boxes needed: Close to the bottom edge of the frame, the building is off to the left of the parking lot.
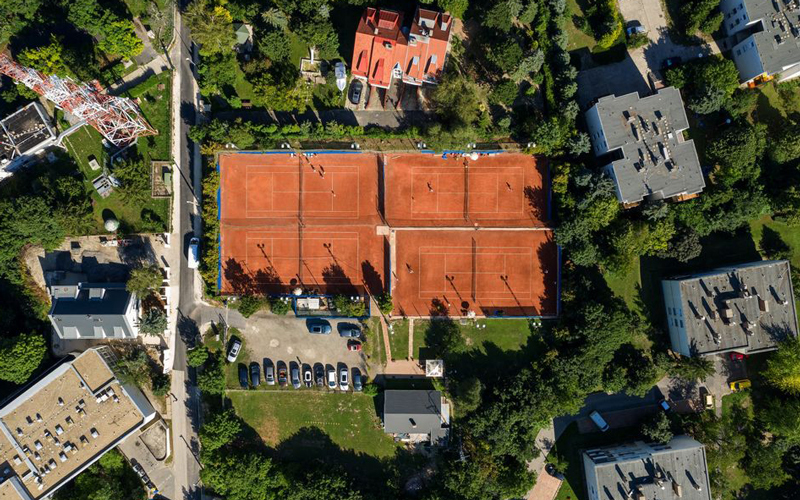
[0,344,159,500]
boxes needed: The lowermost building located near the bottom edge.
[582,431,712,500]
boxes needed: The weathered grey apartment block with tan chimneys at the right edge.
[662,259,800,357]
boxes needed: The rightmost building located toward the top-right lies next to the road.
[717,0,800,88]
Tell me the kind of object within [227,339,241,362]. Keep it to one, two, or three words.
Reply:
car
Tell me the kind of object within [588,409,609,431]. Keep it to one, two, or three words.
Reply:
vehicle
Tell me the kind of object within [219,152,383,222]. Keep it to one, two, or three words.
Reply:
tennis court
